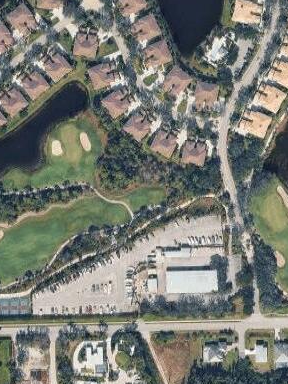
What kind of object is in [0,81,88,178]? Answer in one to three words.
pond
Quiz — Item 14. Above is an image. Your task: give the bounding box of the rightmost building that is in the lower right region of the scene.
[273,338,288,365]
